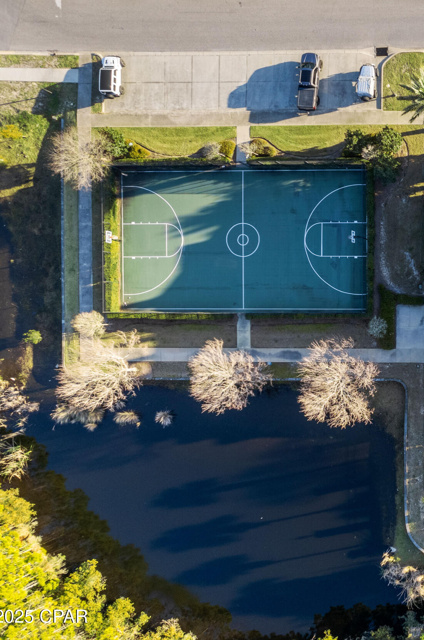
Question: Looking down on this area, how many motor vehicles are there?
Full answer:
I count 3 motor vehicles.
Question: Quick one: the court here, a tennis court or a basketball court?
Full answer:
It looks like the court is a basketball court.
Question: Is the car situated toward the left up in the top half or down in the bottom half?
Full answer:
You can find the car situated toward the left in the top half.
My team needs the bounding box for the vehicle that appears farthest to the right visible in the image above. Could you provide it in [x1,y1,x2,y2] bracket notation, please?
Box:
[357,66,380,106]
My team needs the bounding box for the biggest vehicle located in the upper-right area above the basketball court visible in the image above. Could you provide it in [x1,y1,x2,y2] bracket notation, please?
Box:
[298,55,323,114]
